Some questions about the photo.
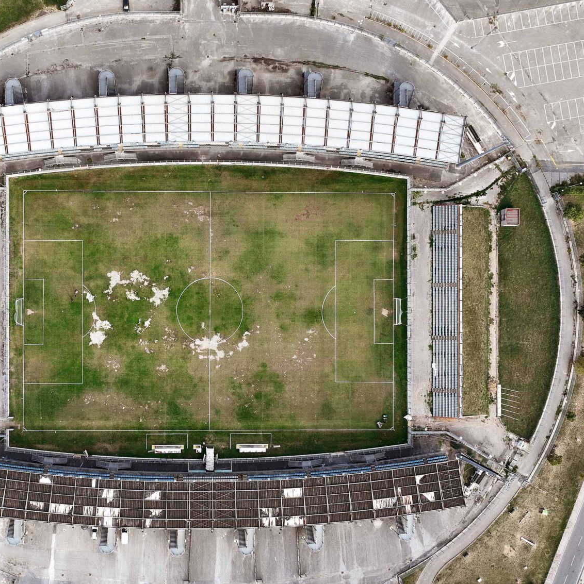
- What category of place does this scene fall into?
sports ground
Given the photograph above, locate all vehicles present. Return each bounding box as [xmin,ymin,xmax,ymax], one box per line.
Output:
[122,0,129,11]
[120,529,128,546]
[91,527,98,541]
